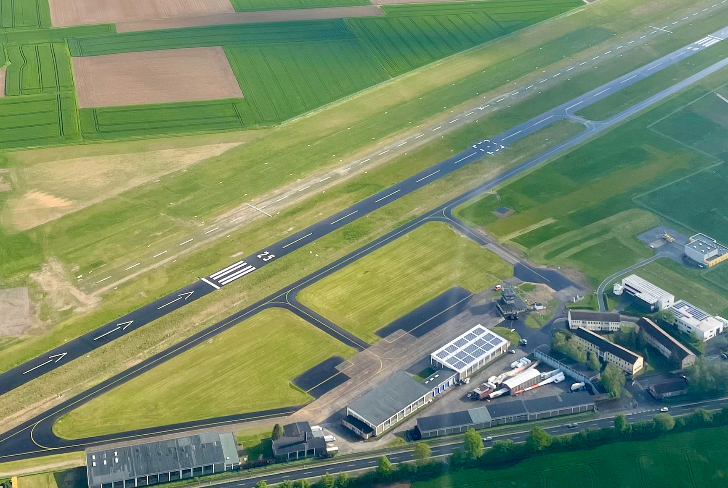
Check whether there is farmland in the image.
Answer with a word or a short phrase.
Yes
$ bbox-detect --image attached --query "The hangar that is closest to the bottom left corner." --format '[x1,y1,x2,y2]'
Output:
[86,431,238,488]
